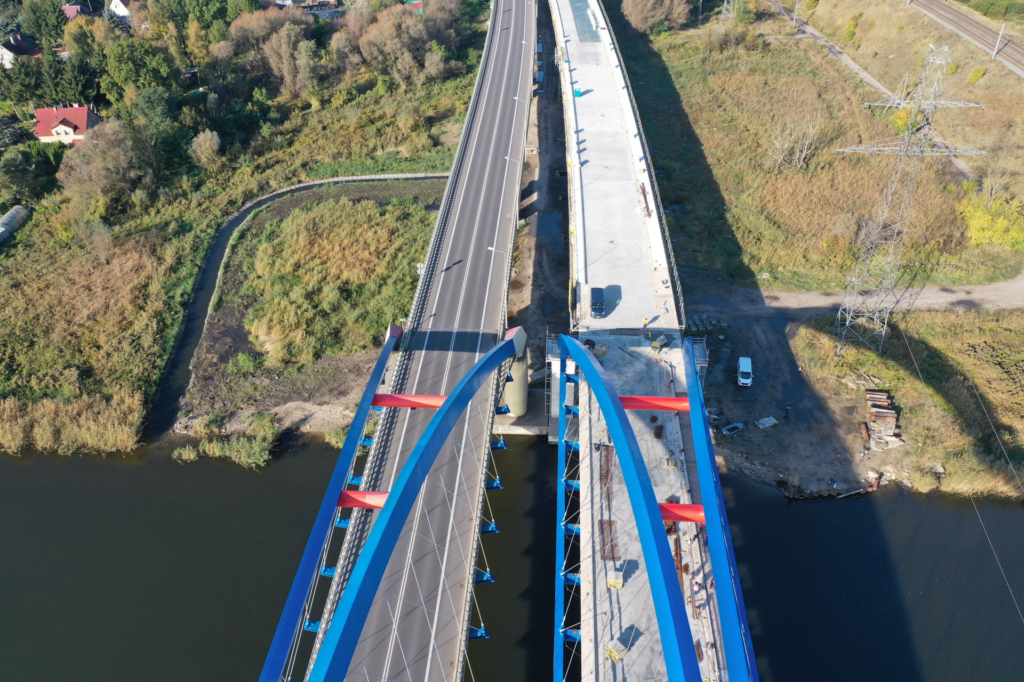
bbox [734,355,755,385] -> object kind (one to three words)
vehicle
